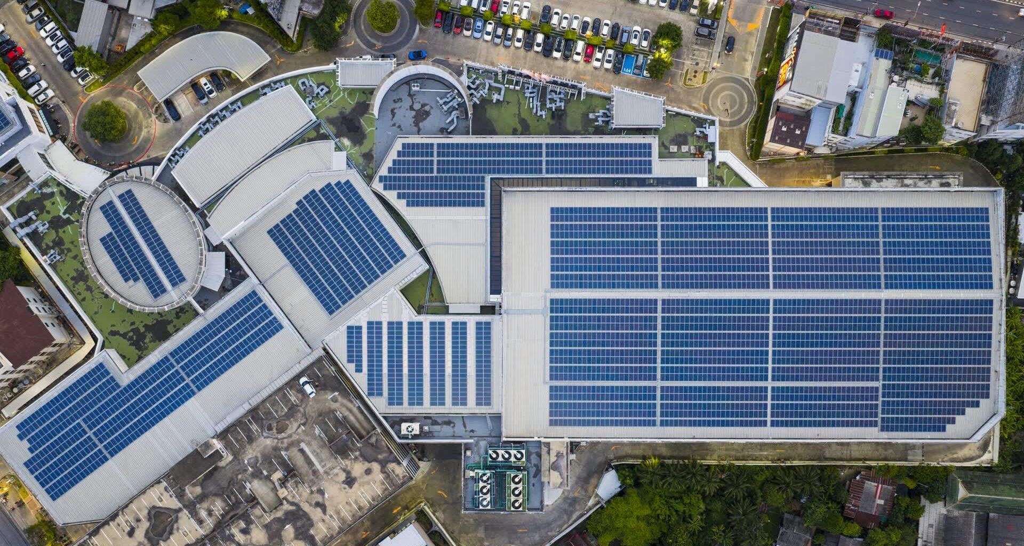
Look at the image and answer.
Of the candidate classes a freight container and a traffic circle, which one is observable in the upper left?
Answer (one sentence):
Visible in the upper left is a traffic circle.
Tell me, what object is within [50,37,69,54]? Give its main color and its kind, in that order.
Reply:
white vehicle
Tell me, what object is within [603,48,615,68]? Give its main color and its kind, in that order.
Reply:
white vehicle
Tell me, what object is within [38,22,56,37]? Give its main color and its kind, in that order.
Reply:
white car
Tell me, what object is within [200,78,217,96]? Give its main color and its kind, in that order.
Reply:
white car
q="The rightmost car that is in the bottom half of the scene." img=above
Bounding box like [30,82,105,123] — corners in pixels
[299,376,317,398]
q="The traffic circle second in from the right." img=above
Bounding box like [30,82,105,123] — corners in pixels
[355,0,416,51]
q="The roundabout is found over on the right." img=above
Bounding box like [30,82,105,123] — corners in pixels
[703,76,754,127]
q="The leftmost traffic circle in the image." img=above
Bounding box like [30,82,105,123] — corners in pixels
[74,85,154,160]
